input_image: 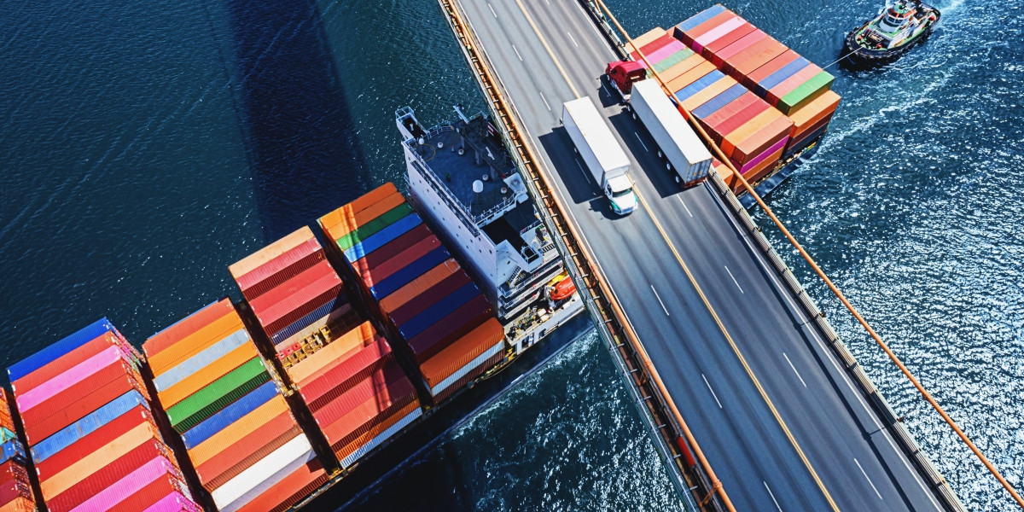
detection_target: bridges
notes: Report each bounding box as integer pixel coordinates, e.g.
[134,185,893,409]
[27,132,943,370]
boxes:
[429,0,1024,512]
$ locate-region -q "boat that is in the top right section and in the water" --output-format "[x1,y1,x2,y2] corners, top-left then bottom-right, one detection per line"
[837,0,948,72]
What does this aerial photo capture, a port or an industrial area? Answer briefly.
port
